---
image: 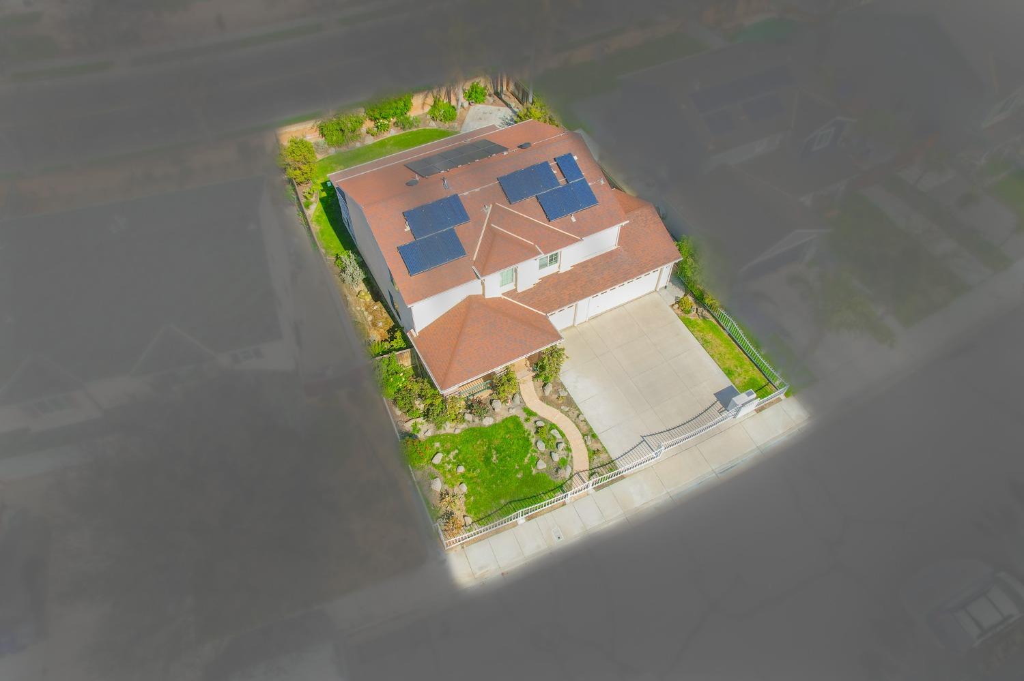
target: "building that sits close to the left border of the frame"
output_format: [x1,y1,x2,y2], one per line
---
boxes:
[0,176,290,458]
